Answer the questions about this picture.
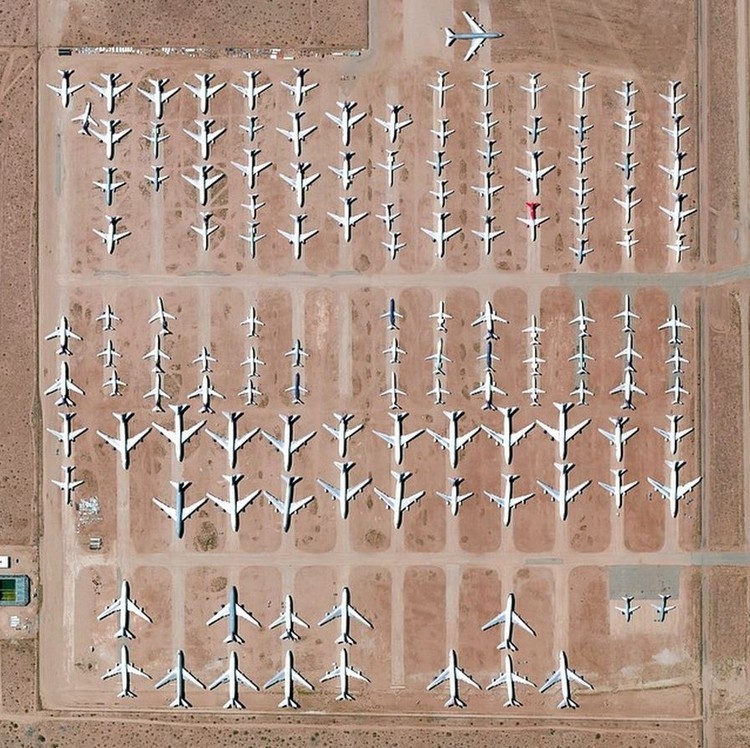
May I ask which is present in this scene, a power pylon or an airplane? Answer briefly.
airplane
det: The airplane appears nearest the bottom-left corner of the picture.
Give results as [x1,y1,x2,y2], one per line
[99,645,149,697]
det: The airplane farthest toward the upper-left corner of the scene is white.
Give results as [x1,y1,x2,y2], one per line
[45,69,83,105]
